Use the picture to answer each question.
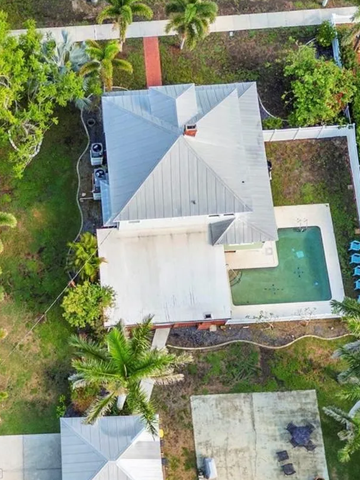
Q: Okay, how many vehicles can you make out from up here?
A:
none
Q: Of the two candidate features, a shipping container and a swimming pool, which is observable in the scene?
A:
swimming pool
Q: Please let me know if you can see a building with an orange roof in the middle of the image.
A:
No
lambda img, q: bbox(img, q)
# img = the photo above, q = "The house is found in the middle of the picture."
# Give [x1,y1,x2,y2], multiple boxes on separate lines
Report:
[97,81,278,334]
